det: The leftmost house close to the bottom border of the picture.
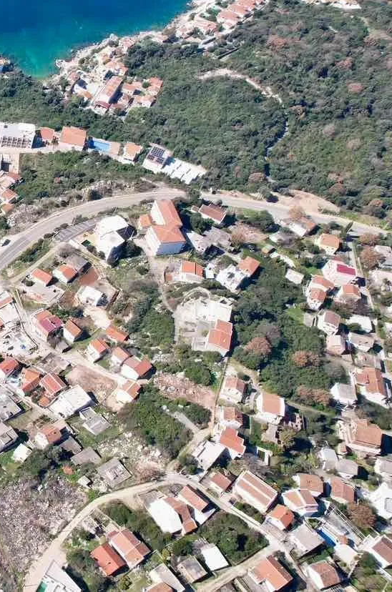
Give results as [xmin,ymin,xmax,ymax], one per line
[32,560,80,592]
